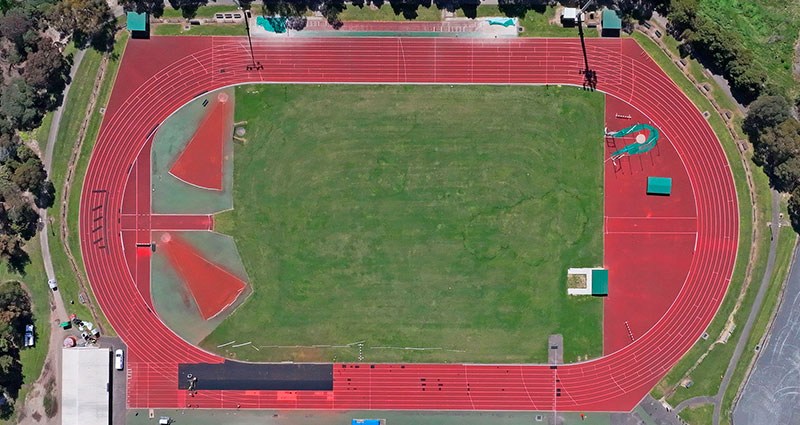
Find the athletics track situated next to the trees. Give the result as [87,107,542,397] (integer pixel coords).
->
[79,36,740,412]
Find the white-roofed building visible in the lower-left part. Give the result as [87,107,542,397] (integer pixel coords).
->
[61,347,112,425]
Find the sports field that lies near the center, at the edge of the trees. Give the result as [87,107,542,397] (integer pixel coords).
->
[200,83,604,364]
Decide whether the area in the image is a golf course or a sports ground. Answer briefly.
sports ground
